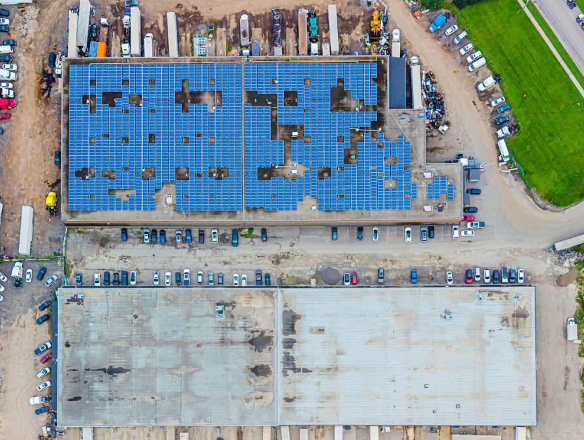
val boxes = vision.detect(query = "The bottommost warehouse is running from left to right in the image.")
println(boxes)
[52,283,537,428]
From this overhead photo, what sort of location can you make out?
industrial area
